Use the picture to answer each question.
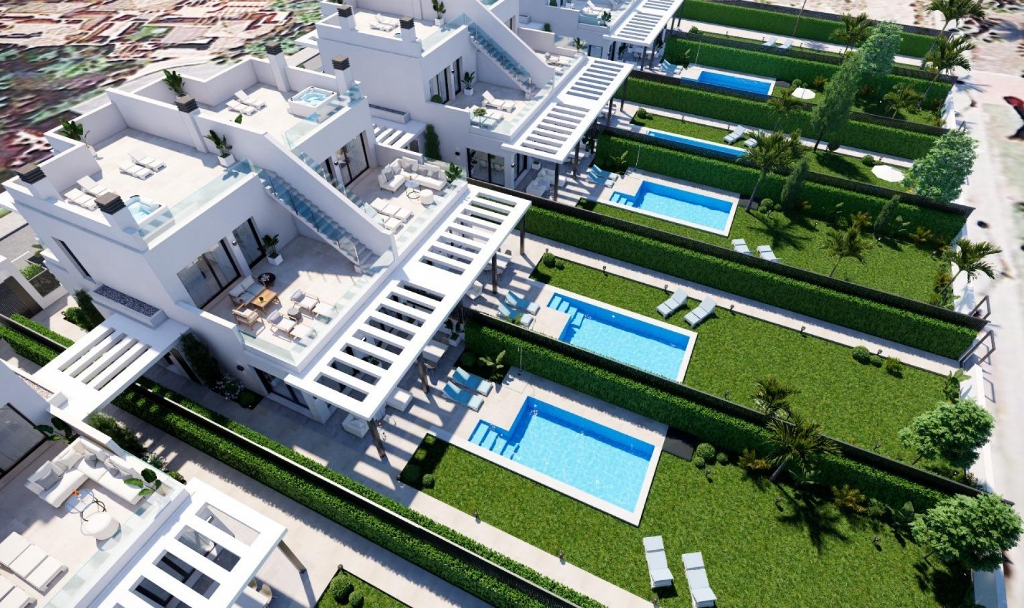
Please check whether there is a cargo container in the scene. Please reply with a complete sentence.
No, this view has no cargo container in it.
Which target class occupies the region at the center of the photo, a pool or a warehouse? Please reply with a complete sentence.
It is a pool that can be seen at the center of the photo.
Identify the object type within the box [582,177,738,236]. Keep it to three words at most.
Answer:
swimming pool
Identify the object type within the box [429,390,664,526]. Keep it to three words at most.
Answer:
swimming pool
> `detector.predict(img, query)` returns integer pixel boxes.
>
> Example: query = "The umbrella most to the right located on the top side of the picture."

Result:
[868,166,907,187]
